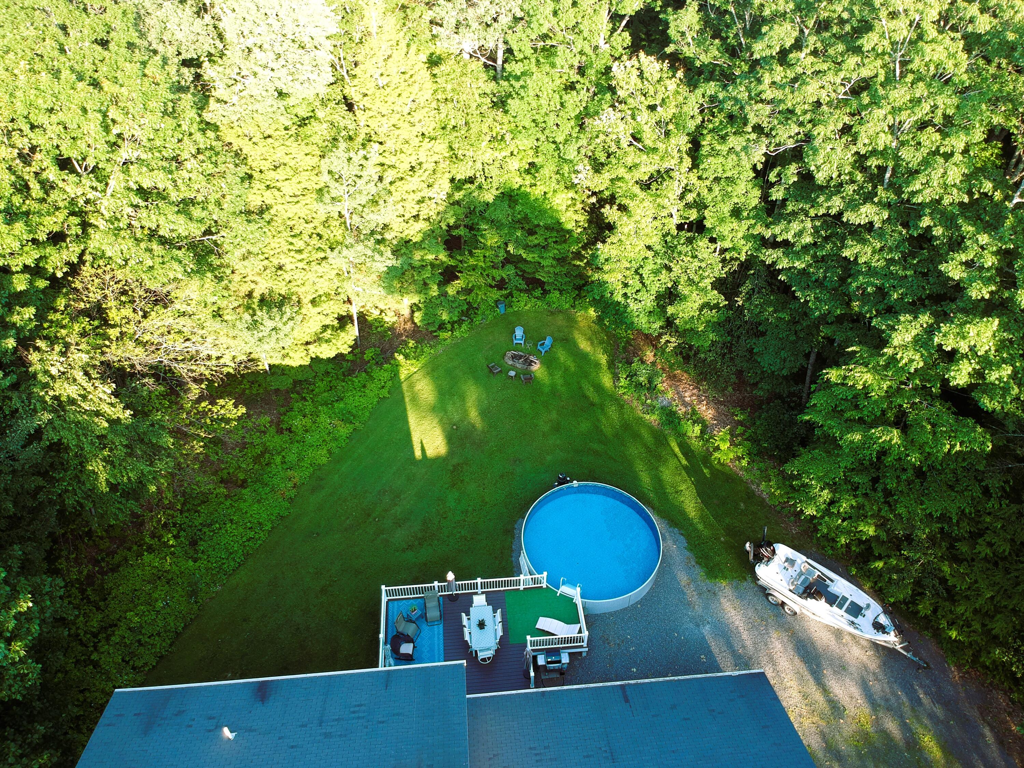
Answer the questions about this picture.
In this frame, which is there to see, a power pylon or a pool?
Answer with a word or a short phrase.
pool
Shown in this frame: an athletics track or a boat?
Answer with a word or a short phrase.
boat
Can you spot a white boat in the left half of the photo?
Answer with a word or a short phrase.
No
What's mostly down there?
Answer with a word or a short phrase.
trees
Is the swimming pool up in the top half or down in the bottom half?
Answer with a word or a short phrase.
bottom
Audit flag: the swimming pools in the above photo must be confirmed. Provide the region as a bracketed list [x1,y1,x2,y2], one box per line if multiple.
[521,480,662,618]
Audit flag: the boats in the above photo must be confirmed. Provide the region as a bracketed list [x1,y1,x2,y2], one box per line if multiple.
[741,525,903,642]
